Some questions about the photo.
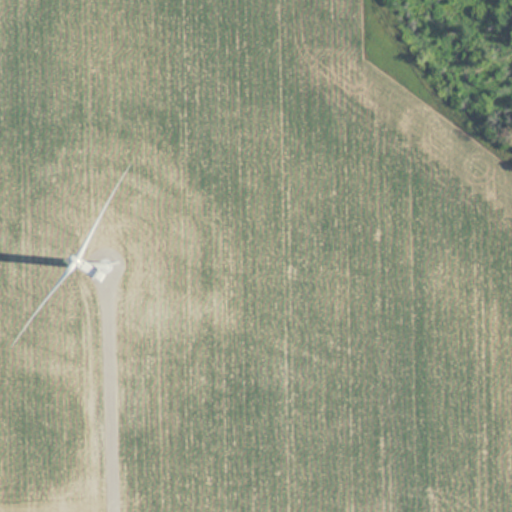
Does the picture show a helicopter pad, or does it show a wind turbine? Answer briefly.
wind turbine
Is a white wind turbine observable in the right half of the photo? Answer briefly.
No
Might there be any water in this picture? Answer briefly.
No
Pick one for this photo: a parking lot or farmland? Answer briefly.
farmland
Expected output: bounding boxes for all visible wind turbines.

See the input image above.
[14,164,133,346]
